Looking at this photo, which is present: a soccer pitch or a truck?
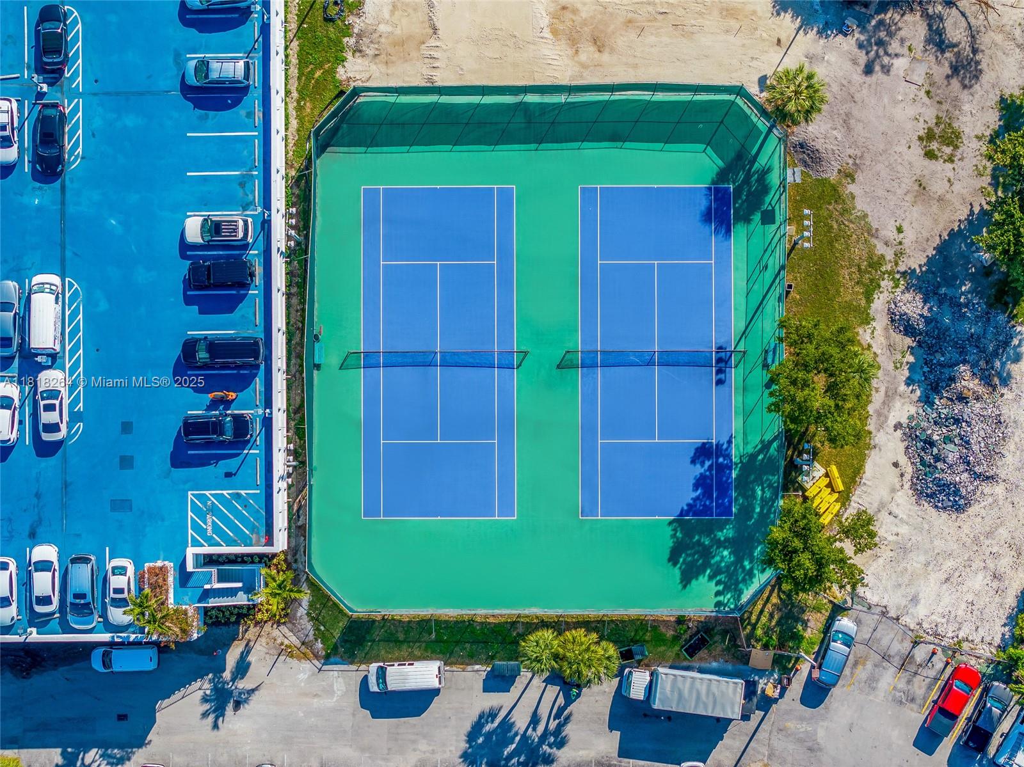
truck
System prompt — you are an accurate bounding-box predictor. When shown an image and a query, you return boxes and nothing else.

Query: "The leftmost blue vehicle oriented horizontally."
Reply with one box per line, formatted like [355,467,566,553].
[91,643,158,675]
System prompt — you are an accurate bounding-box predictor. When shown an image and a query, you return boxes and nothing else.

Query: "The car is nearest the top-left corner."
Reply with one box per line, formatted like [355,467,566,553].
[35,5,69,69]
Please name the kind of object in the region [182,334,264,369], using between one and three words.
car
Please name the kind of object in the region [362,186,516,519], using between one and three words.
tennis court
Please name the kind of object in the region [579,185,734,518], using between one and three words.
tennis court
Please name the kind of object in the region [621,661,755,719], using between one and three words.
truck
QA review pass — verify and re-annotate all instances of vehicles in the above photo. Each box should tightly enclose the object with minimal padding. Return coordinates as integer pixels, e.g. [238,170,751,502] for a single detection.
[104,559,137,624]
[185,212,253,247]
[27,274,65,354]
[206,390,238,401]
[0,557,20,625]
[925,661,981,741]
[91,643,158,675]
[182,410,254,445]
[33,104,69,176]
[812,614,858,691]
[957,679,1012,759]
[35,5,69,69]
[189,256,256,289]
[0,381,23,446]
[0,280,23,357]
[621,661,755,719]
[680,761,705,767]
[27,543,62,613]
[182,334,264,369]
[369,660,444,694]
[0,98,22,166]
[185,55,252,89]
[35,370,70,441]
